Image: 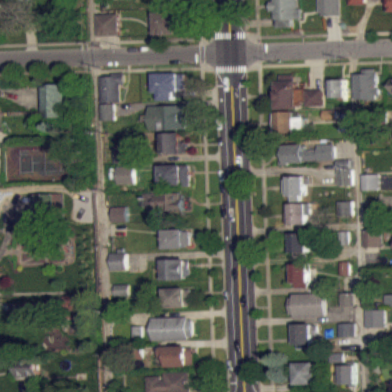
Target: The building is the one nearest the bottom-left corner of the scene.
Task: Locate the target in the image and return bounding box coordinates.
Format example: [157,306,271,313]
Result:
[8,364,43,380]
